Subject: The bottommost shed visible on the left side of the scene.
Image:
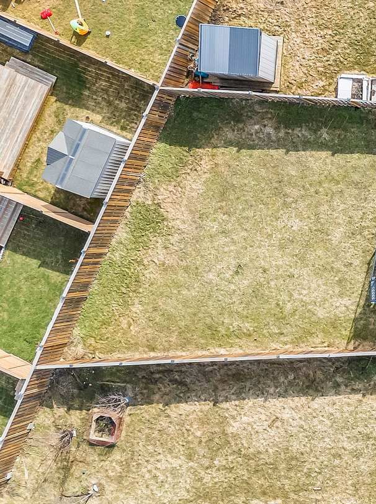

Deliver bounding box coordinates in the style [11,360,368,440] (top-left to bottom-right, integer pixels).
[38,121,135,197]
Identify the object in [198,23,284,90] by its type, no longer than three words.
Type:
shed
